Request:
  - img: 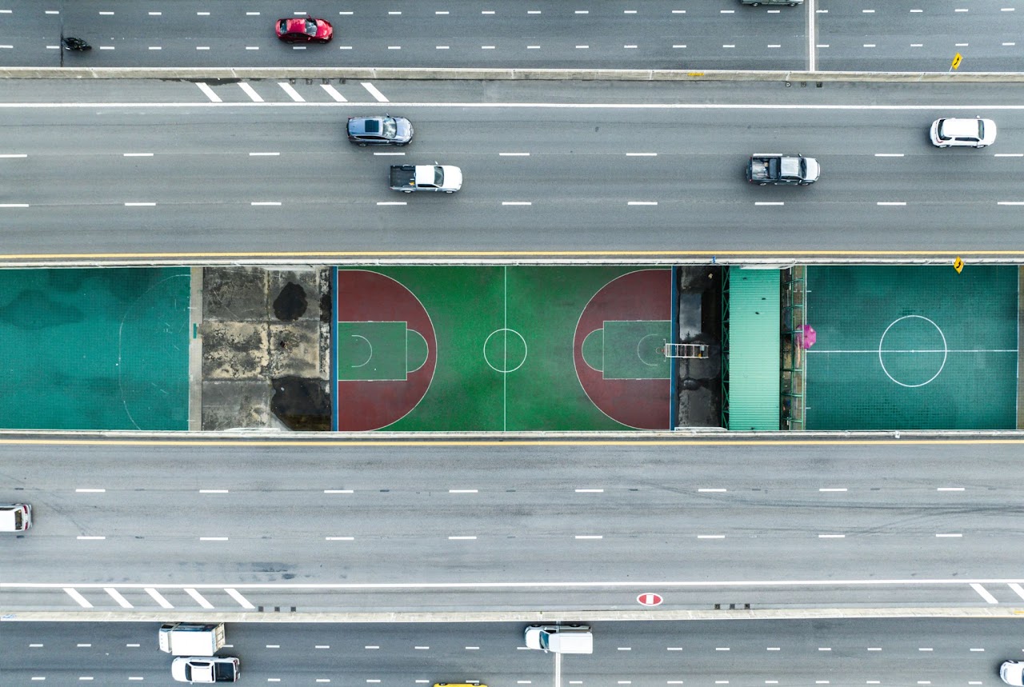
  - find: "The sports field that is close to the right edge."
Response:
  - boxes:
[805,266,1018,429]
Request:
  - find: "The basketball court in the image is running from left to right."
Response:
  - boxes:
[337,266,672,430]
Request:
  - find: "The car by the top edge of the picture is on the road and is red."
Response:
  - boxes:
[277,16,334,46]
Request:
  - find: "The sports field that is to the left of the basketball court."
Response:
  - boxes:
[0,268,189,430]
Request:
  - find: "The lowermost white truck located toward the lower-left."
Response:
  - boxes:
[173,654,241,686]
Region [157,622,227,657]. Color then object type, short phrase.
white truck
